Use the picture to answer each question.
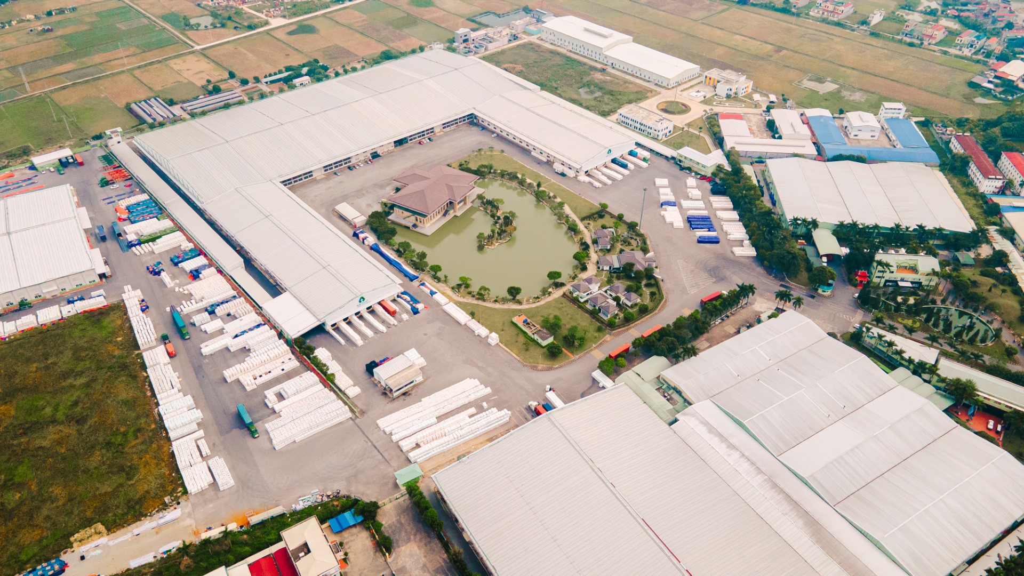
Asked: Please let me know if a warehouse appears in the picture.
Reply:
Yes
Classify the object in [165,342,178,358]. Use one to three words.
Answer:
vehicle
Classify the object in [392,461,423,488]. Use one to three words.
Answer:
shed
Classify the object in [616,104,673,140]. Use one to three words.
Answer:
building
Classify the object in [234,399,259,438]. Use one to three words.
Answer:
truck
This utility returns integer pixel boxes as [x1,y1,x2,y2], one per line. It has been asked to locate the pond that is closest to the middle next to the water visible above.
[394,178,577,297]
